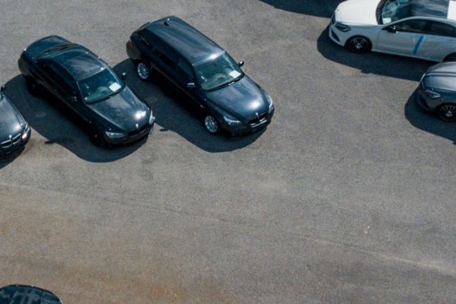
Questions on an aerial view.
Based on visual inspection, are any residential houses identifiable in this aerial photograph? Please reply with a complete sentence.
No, no residential house is visible in the scene.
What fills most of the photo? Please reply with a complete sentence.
The bulk of the photo consists of paved ground.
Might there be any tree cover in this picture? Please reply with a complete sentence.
No, tree cover can't be seen anywhere here.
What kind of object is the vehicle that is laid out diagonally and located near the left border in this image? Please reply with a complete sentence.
I'd say the vehicle that is laid out diagonally and located near the left border is an automobile.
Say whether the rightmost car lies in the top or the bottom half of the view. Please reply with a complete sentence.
You can find the rightmost car in the top half.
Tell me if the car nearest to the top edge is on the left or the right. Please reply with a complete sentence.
The car nearest to the top edge sits on the right side.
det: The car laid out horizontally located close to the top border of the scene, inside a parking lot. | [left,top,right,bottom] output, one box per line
[326,0,456,63]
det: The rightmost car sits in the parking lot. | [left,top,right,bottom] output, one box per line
[413,63,456,122]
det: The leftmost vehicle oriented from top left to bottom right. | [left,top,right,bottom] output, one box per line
[13,34,155,152]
